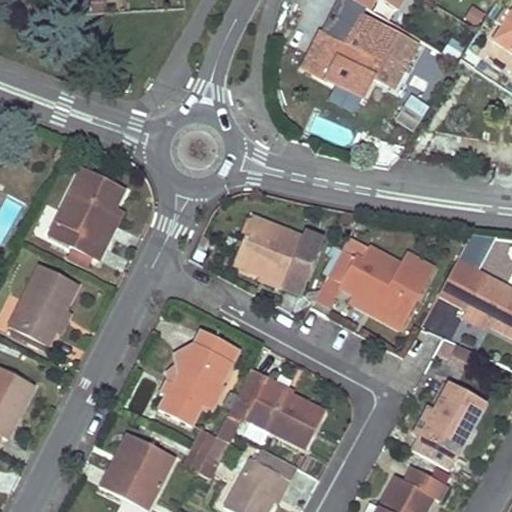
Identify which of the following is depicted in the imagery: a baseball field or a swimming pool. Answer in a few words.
swimming pool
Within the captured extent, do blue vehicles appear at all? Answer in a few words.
No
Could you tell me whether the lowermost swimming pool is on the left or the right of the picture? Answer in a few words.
left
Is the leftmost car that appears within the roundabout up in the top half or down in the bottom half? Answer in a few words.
top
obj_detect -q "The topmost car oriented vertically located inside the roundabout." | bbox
[218,108,230,131]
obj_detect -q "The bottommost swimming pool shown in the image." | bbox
[126,374,160,414]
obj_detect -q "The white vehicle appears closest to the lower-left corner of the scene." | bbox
[86,412,104,436]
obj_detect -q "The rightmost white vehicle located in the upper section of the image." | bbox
[290,30,304,48]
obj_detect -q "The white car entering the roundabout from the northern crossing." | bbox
[179,92,199,114]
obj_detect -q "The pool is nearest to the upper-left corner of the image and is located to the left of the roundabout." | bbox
[0,197,24,248]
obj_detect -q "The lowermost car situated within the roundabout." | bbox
[218,154,235,178]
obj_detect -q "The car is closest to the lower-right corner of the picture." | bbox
[408,338,424,357]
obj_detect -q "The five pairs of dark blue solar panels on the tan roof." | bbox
[455,405,482,446]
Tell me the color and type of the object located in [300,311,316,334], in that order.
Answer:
white car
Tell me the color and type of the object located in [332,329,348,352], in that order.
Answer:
white car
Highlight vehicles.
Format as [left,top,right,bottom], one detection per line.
[86,412,104,436]
[179,92,199,114]
[290,30,304,48]
[408,338,424,357]
[259,353,276,374]
[332,329,348,352]
[274,313,294,328]
[218,154,235,178]
[300,311,316,334]
[190,268,210,283]
[218,108,230,131]
[56,341,75,356]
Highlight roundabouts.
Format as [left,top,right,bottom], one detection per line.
[129,80,266,246]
